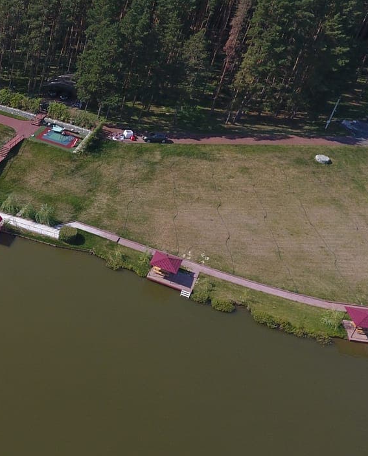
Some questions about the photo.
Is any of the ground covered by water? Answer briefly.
Yes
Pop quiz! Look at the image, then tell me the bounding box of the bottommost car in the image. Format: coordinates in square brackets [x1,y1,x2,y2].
[143,131,172,144]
